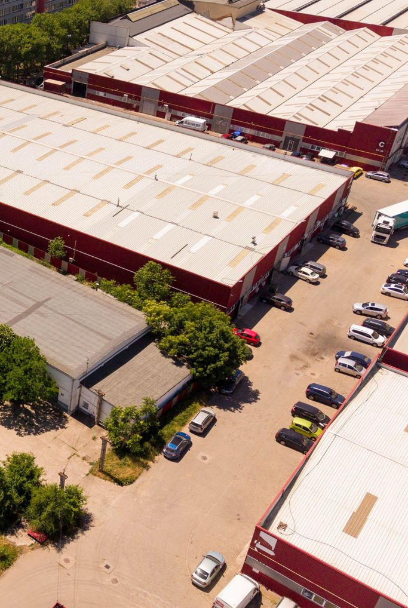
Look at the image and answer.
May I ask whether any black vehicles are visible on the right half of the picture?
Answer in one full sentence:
Yes, there is a black vehicle on the right half of the picture.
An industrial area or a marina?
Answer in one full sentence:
The picture captures an industrial area.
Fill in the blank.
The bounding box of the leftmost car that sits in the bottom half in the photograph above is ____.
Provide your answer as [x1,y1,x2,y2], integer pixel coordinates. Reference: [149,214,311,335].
[164,430,192,460]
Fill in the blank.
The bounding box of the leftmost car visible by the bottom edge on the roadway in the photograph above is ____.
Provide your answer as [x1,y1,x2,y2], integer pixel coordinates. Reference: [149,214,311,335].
[191,550,228,588]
